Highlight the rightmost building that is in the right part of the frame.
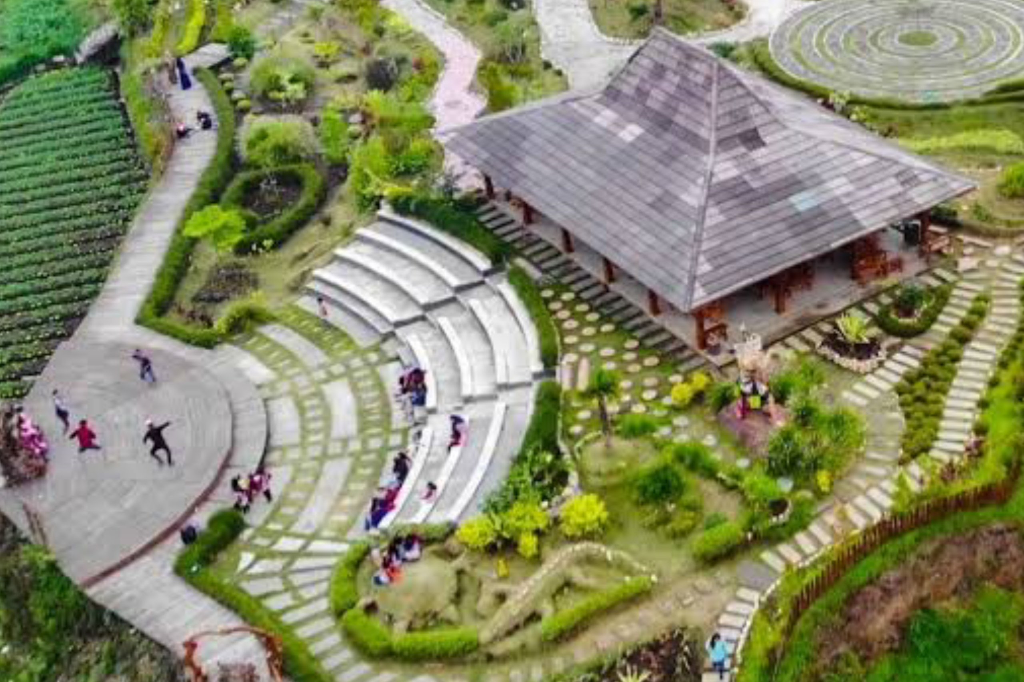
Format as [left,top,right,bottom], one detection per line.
[440,24,979,377]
